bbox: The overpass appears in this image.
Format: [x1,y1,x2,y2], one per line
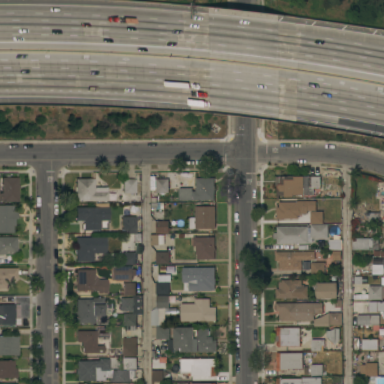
[209,6,278,120]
